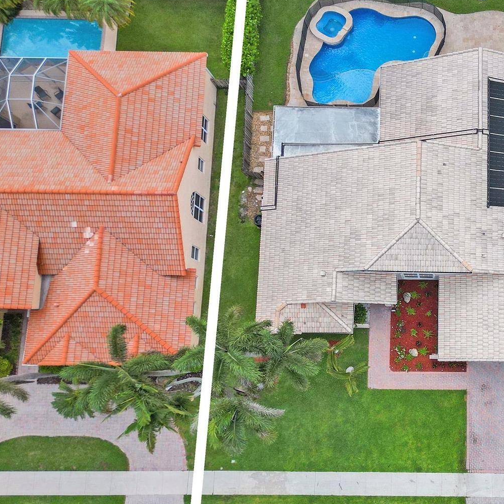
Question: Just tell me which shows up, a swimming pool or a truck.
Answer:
swimming pool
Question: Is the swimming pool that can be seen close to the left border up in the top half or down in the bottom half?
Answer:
top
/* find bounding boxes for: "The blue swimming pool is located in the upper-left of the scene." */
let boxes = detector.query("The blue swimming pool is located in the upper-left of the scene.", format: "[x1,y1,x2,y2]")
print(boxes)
[0,14,105,89]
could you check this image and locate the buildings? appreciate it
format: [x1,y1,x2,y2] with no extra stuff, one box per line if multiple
[0,48,218,367]
[255,46,504,363]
